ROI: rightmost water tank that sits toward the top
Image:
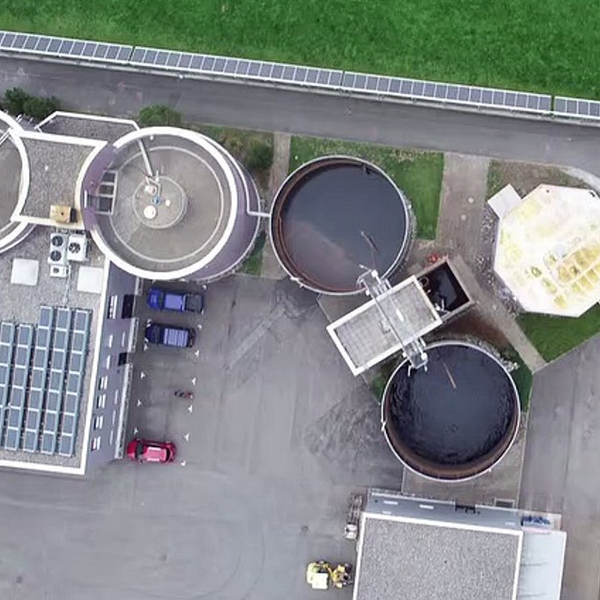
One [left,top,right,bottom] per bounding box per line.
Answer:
[271,155,412,295]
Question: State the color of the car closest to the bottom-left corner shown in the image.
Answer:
red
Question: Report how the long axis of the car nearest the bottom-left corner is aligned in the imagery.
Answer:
from side to side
